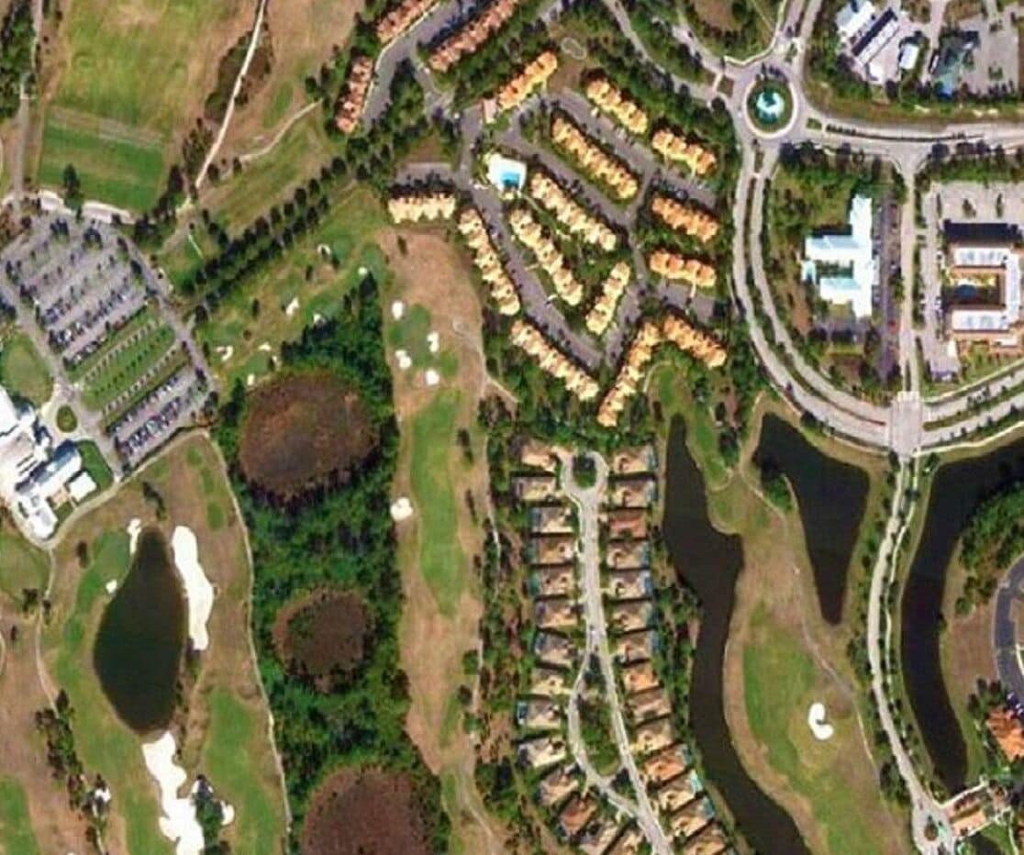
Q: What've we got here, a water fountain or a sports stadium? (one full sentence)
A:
The one in the frame is a water fountain.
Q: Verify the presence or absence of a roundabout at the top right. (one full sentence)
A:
Yes, I can see a roundabout at the top right.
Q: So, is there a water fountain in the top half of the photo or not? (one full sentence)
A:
Yes, there is a water fountain in the top half of the photo.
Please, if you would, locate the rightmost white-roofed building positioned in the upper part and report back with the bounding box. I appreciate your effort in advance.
[949,243,1024,348]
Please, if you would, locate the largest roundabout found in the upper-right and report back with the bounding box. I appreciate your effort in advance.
[718,43,821,147]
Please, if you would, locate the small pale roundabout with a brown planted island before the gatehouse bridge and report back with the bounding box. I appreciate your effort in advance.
[911,794,954,855]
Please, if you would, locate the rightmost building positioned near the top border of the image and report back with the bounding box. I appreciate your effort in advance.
[929,30,976,97]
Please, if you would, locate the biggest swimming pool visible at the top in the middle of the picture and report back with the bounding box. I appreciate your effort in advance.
[489,153,527,191]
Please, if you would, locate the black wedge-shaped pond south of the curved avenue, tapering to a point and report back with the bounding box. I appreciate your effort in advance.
[754,411,869,626]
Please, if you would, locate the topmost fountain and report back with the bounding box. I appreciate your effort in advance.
[757,91,785,120]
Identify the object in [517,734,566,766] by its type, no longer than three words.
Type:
house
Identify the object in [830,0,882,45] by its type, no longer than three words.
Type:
building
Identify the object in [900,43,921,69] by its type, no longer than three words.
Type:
building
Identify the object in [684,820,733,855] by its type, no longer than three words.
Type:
house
